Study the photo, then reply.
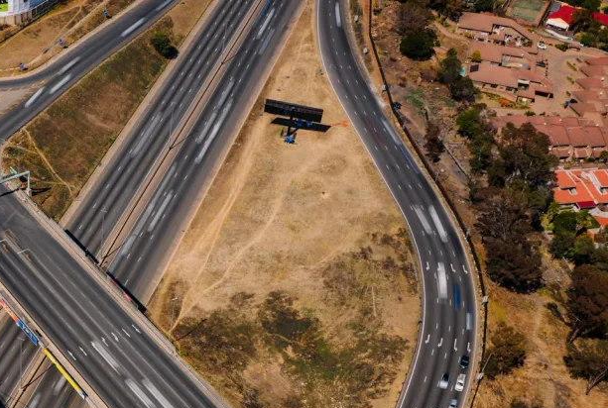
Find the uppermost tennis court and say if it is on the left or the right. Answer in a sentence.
The uppermost tennis court appears in the right half of the scene.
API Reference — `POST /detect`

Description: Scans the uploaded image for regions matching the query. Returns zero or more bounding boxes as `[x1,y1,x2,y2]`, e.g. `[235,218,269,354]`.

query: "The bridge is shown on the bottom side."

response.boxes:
[0,184,199,408]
